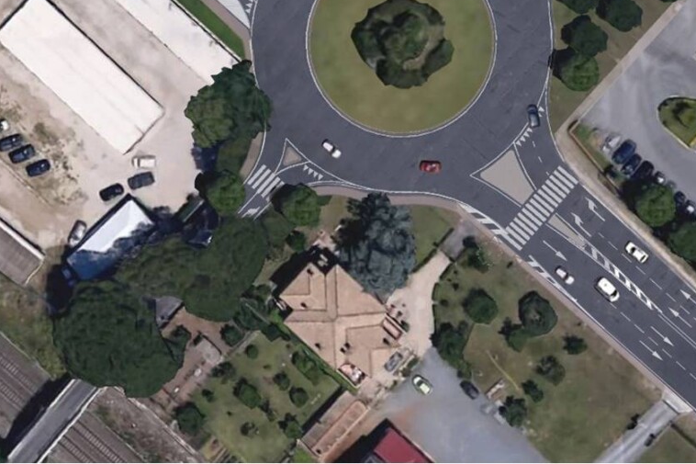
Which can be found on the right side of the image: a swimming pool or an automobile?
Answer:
automobile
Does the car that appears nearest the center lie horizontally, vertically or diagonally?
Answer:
diagonally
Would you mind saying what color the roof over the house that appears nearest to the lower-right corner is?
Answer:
red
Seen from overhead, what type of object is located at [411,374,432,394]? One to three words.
car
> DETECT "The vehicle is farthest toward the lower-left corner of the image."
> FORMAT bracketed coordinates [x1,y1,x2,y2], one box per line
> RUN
[69,220,87,244]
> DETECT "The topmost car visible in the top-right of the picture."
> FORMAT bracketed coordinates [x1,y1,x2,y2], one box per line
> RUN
[527,104,540,128]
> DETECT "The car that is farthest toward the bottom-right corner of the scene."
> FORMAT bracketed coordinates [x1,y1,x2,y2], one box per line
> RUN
[595,275,621,303]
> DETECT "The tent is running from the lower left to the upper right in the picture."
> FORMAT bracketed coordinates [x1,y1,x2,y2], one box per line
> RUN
[65,198,157,282]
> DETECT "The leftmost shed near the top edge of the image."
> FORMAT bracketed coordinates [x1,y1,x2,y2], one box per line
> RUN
[0,0,165,154]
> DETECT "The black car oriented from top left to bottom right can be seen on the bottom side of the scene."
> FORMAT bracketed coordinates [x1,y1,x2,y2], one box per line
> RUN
[458,379,480,400]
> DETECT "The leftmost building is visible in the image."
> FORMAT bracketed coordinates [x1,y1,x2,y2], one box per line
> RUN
[0,220,44,286]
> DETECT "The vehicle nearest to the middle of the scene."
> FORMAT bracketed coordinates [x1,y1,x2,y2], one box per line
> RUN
[321,139,342,159]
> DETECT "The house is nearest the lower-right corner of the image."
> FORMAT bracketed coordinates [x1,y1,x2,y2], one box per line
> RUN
[359,420,437,464]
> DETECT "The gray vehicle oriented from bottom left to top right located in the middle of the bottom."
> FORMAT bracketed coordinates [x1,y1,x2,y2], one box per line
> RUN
[383,349,404,372]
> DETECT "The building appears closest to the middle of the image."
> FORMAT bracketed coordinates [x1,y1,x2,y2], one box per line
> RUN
[279,263,401,390]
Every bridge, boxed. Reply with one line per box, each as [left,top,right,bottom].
[2,382,99,464]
